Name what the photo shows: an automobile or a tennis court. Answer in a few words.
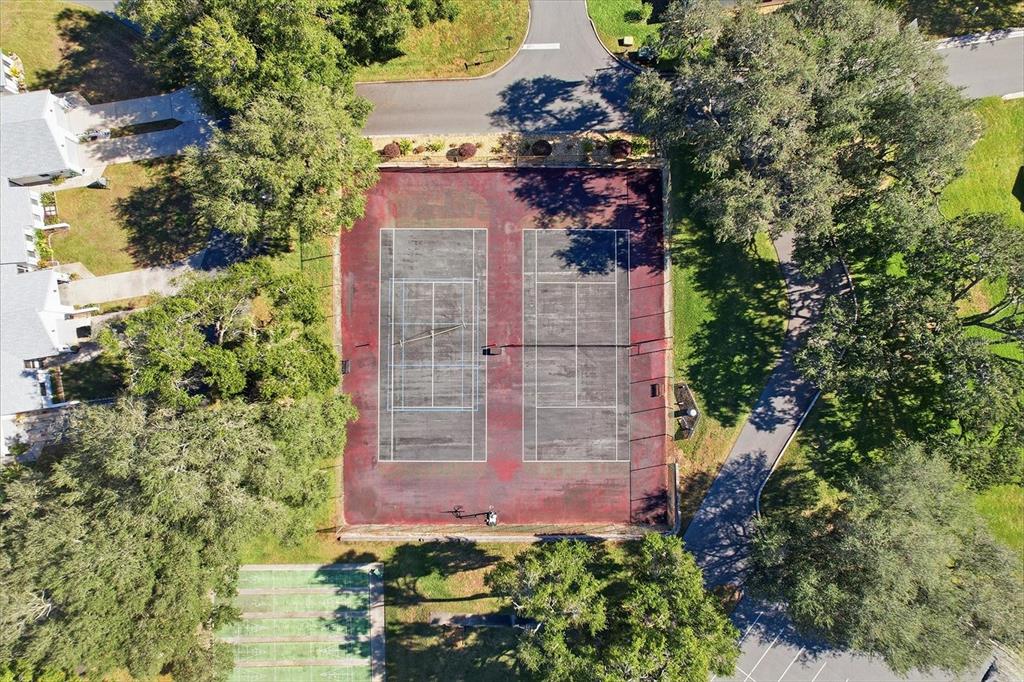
tennis court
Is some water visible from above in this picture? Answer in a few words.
No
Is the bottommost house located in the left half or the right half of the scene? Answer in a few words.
left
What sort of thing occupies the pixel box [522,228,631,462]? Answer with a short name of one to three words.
tennis court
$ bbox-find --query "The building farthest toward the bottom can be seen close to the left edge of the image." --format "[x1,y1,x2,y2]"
[0,245,75,416]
